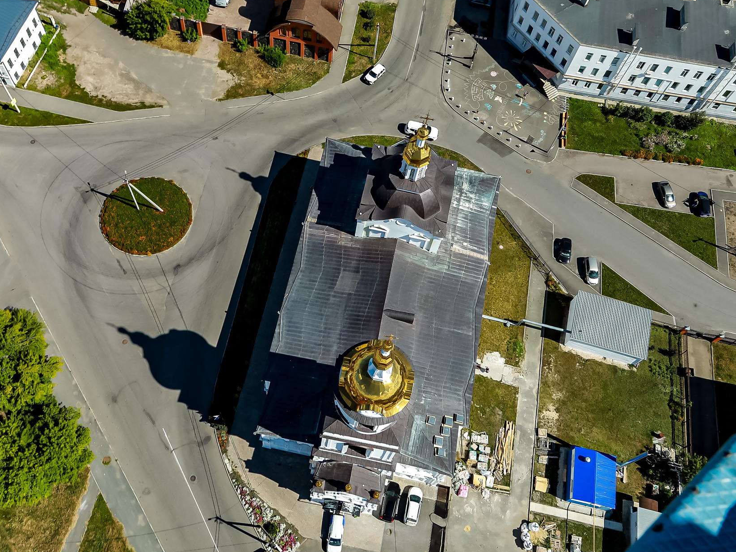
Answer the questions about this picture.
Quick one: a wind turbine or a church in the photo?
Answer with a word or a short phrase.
church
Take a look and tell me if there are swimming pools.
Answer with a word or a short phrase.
No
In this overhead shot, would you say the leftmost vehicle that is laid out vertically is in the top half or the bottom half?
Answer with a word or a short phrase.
bottom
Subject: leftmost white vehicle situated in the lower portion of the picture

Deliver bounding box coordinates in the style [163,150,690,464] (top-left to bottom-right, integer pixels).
[325,512,345,552]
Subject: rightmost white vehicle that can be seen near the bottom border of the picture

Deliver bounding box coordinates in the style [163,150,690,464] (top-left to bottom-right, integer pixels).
[401,485,426,531]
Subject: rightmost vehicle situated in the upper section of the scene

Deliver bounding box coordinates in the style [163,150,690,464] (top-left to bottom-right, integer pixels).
[692,192,716,217]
